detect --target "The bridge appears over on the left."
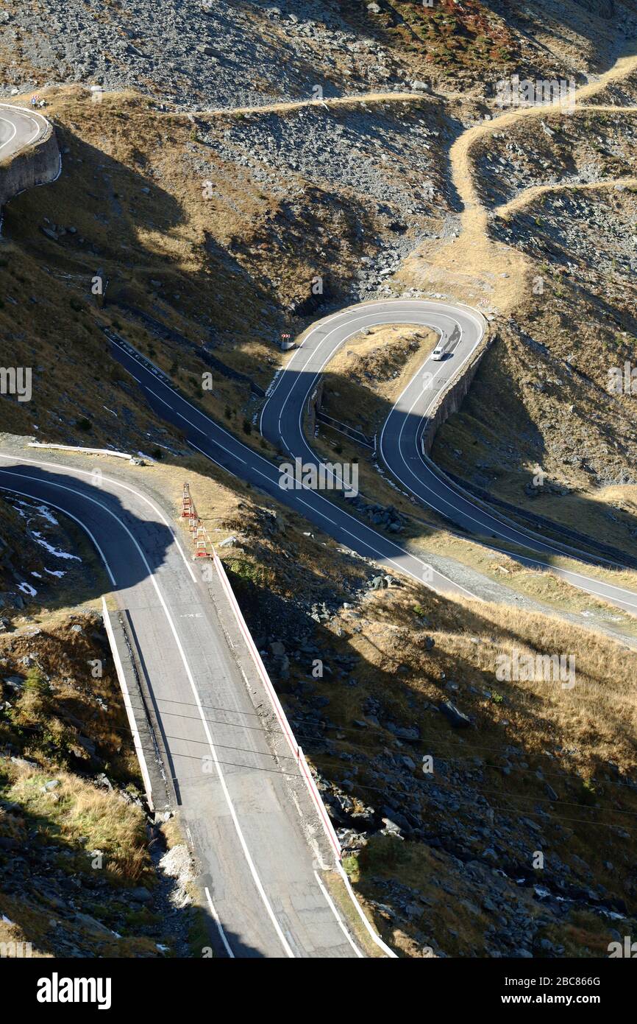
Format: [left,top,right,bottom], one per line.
[98,577,340,844]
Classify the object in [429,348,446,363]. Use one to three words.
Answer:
car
